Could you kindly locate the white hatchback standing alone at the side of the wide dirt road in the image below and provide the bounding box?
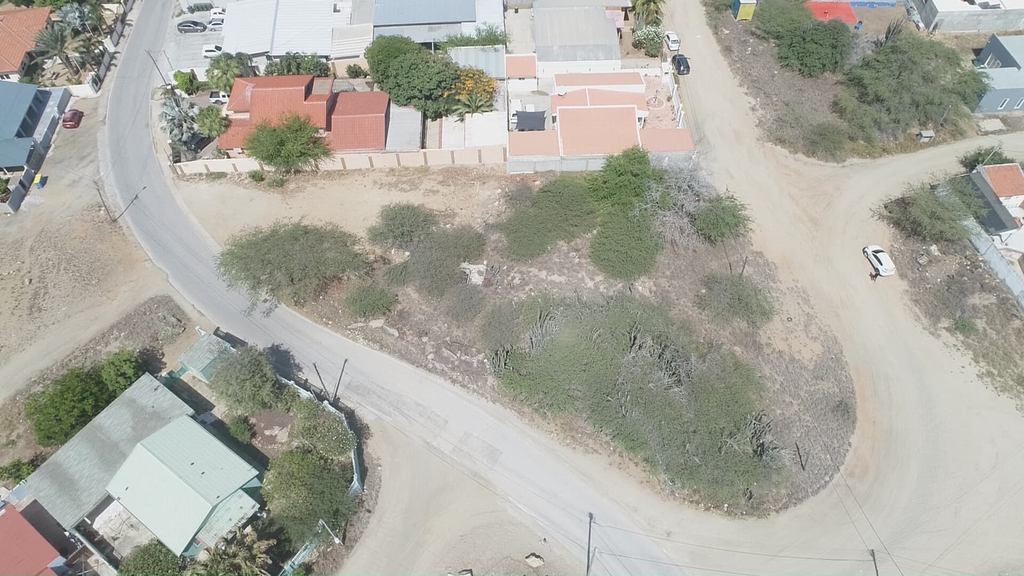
[862,247,895,276]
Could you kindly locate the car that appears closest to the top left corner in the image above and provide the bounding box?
[60,109,87,130]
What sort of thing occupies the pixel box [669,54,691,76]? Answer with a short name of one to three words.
car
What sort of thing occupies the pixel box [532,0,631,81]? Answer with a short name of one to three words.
house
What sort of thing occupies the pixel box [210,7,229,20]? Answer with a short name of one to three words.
vehicle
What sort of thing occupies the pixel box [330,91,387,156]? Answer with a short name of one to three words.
shed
